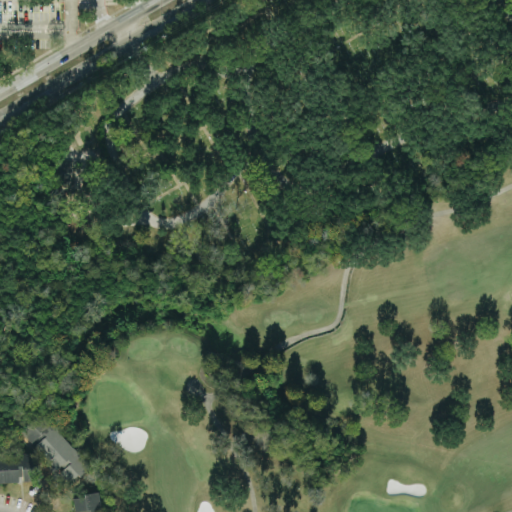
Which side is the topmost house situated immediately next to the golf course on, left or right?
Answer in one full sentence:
It is on the left.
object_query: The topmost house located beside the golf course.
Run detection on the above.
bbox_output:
[25,430,88,482]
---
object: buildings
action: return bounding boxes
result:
[25,430,88,482]
[0,462,30,486]
[73,494,99,512]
